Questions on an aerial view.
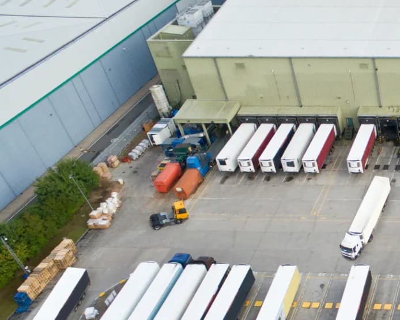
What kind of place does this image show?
industrial area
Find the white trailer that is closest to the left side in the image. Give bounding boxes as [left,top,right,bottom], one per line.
[34,268,94,320]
